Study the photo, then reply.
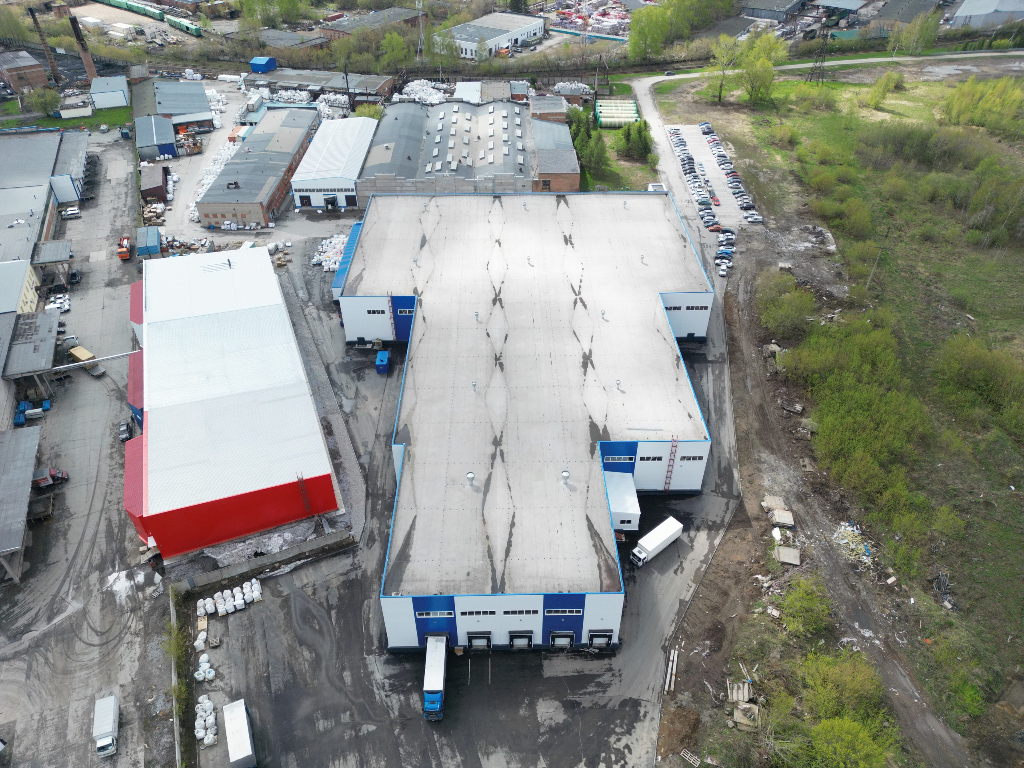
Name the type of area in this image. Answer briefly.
industrial area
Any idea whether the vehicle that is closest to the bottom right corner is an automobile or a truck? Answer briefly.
truck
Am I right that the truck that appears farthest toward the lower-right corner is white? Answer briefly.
Yes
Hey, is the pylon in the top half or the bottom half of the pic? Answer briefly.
top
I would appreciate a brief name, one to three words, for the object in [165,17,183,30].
rail car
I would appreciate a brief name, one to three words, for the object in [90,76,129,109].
shed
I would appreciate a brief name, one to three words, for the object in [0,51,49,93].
building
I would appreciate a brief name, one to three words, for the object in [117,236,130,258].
vehicle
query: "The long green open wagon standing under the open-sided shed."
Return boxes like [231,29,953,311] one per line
[825,11,851,29]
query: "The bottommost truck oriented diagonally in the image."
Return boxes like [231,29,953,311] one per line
[627,516,684,572]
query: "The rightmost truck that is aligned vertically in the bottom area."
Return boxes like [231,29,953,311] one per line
[420,640,447,724]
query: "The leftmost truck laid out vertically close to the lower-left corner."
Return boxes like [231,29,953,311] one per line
[93,695,120,762]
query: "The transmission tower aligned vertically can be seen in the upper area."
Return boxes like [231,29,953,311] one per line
[809,25,830,84]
